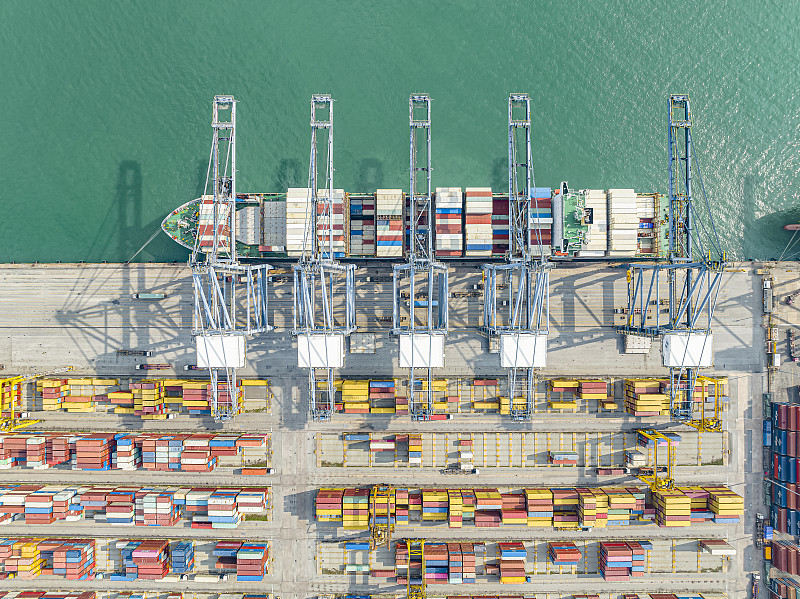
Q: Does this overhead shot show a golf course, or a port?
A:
port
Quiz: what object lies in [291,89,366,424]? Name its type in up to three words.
container crane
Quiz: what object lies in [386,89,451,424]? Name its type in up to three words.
container crane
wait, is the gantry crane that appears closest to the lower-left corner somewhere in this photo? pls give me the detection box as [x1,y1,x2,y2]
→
[0,376,46,436]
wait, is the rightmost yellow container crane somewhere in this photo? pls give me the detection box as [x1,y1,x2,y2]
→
[676,376,722,436]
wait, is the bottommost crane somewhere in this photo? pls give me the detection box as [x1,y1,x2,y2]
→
[402,537,428,599]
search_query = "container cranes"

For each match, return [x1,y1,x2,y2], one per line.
[634,430,678,494]
[402,537,428,599]
[0,376,46,436]
[386,89,451,424]
[469,89,553,424]
[676,376,722,436]
[291,89,366,424]
[604,89,734,424]
[370,484,395,551]
[184,89,284,424]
